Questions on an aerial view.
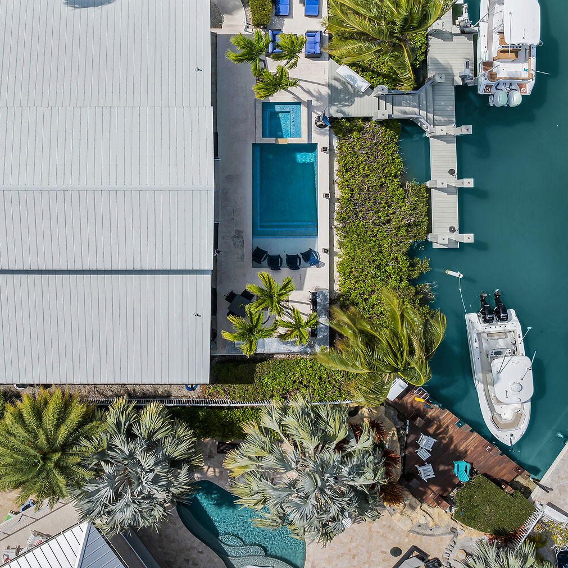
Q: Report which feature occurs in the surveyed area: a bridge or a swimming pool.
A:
swimming pool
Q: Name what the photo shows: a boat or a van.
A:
boat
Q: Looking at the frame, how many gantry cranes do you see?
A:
0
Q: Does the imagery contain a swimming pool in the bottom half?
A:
Yes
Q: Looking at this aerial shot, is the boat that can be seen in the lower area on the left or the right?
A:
right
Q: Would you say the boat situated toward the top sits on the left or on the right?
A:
right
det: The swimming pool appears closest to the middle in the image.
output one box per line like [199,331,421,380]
[248,143,322,273]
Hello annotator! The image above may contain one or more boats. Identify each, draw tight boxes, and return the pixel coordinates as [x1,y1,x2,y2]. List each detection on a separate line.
[467,288,535,451]
[475,0,549,107]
